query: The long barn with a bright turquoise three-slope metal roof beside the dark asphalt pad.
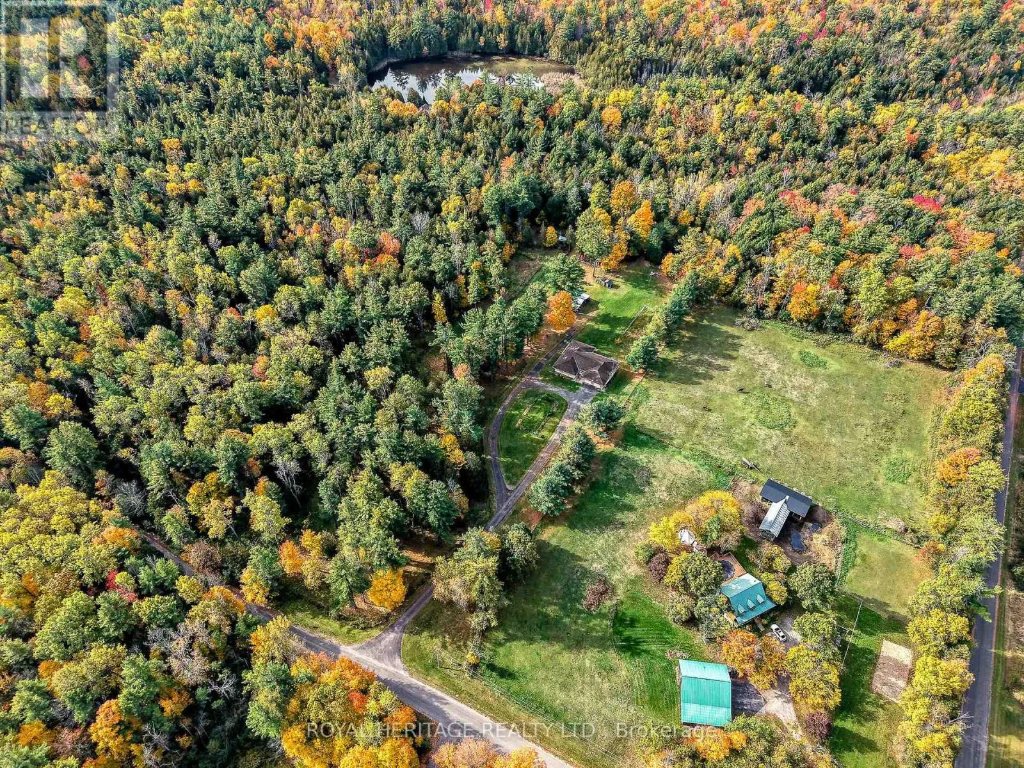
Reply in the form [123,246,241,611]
[678,659,732,729]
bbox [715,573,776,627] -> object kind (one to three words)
house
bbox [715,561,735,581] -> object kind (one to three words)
swimming pool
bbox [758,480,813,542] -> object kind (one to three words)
building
